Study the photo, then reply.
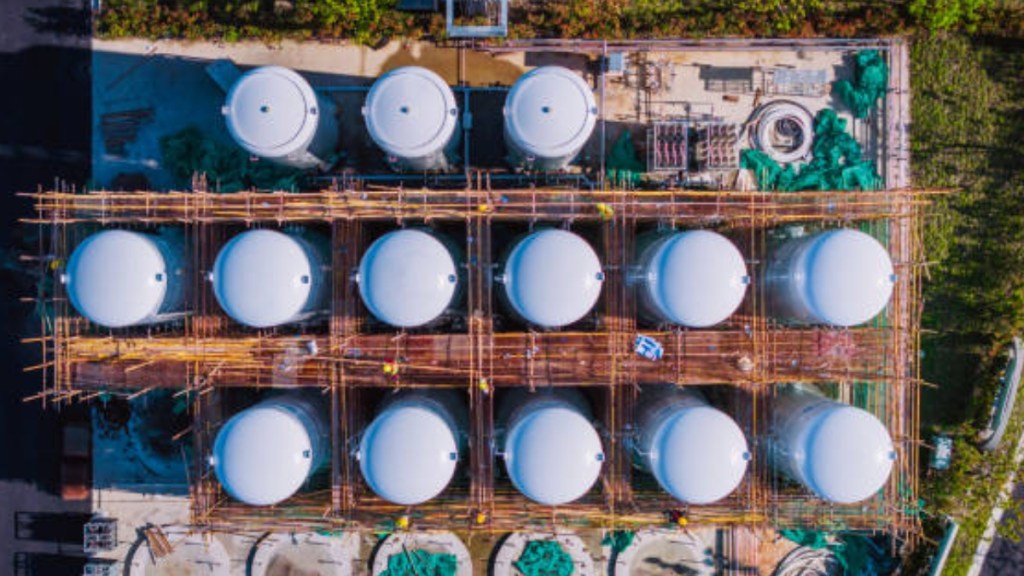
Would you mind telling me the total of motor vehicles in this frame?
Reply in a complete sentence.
The picture shows 1 motor vehicle.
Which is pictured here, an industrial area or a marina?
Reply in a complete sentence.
The area seen from above is an industrial area.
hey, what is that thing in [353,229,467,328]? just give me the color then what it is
white storage tank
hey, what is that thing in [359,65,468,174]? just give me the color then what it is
white storage tank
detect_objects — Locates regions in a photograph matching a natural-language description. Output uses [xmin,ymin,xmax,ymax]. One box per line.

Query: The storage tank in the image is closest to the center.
[493,229,602,328]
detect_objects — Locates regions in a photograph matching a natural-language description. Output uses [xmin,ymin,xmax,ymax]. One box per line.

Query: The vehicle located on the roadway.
[59,428,89,503]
